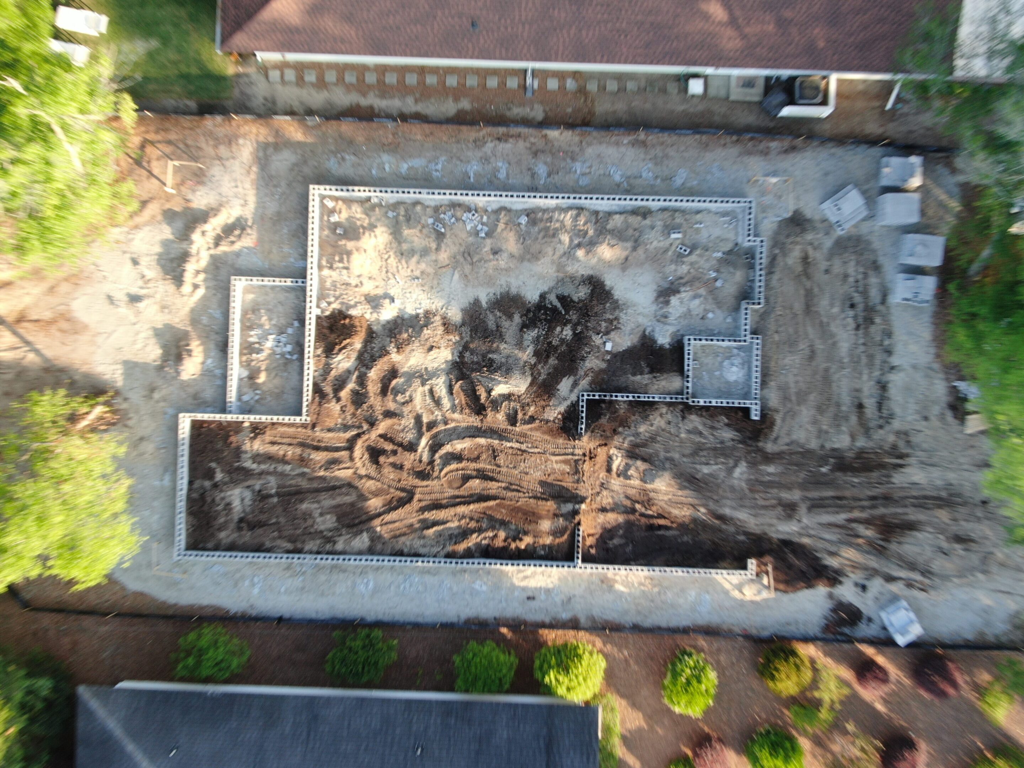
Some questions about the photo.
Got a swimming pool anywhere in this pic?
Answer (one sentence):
No, there's no swimming pool here.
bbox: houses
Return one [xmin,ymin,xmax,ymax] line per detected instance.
[73,683,603,768]
[214,0,976,94]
